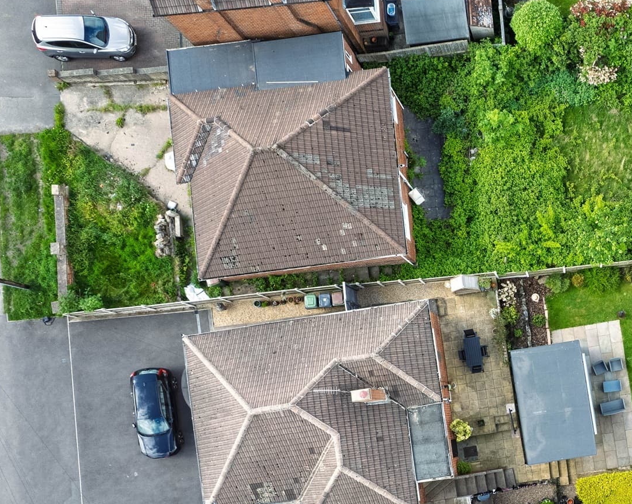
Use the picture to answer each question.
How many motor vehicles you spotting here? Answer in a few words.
2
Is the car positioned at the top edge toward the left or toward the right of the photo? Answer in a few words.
left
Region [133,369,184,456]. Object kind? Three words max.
car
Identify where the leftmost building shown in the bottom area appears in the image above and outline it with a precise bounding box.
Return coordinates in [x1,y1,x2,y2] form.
[180,298,464,504]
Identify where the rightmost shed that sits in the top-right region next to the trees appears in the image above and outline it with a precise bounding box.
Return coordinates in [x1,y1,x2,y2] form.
[470,0,498,44]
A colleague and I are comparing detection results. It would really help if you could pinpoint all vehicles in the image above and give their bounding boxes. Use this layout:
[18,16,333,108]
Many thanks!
[133,369,184,456]
[38,17,134,66]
